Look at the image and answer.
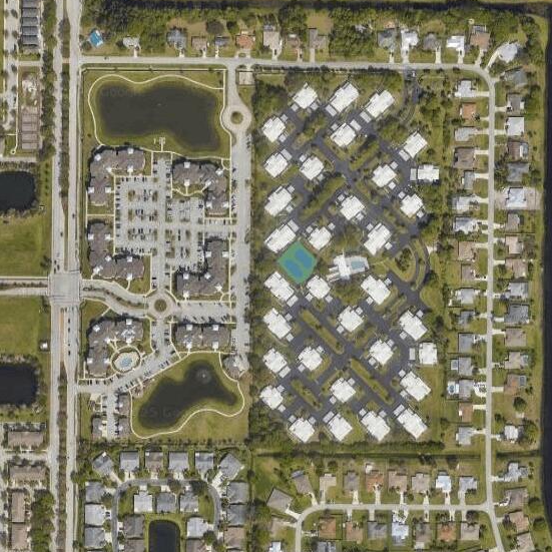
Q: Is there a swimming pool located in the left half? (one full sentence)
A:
Yes, a swimming pool is visible in the left half.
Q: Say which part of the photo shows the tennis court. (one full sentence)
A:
You can find the tennis court in the center area of the picture.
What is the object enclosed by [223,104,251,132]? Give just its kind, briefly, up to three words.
roundabout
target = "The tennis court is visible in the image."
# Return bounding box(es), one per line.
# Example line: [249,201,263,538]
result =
[277,241,317,284]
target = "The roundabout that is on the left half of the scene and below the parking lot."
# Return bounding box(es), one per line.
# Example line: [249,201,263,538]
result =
[147,291,176,320]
